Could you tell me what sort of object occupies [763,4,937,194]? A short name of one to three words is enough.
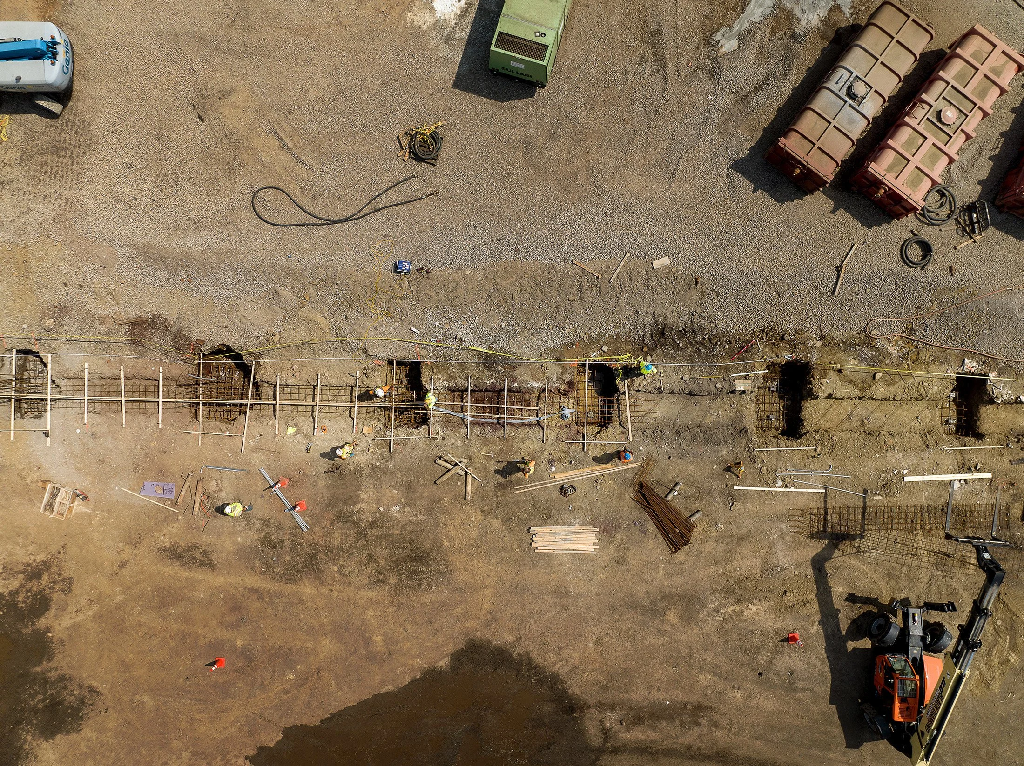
storage tank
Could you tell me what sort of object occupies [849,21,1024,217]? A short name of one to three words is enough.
storage tank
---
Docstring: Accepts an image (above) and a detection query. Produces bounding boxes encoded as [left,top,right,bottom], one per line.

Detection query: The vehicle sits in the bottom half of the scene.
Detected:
[860,482,1022,766]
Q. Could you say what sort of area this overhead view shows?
industrial area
